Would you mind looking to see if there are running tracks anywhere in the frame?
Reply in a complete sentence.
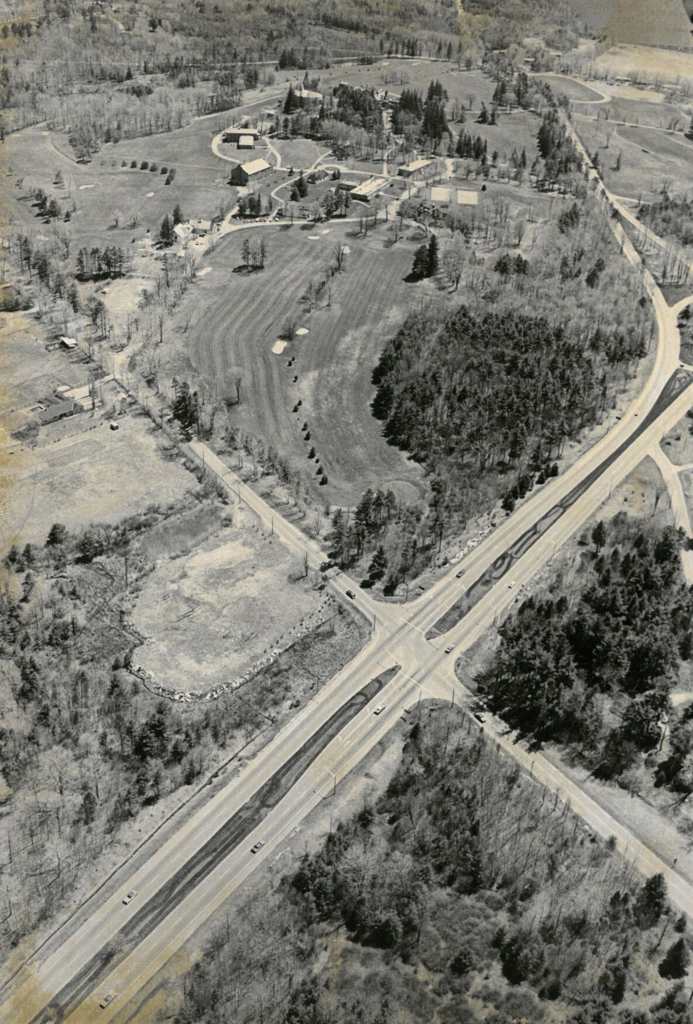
No, I find no running track anywhere in the image.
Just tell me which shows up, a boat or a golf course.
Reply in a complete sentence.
There is a golf course in the scene.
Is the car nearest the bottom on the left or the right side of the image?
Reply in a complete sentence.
The car nearest the bottom appears in the left half of the scene.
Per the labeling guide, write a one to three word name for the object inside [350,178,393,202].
building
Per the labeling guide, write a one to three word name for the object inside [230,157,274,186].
barn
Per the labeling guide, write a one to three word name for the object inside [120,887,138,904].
car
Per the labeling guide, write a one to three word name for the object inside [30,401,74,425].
house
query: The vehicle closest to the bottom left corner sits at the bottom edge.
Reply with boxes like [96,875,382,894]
[96,989,116,1009]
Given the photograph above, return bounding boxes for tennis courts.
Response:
[457,190,478,204]
[431,187,452,201]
